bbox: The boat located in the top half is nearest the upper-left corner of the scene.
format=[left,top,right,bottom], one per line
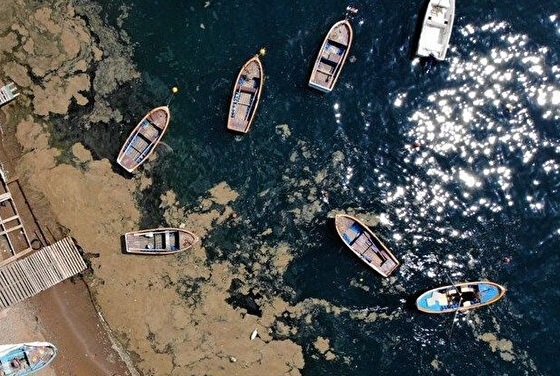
[123,105,172,171]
